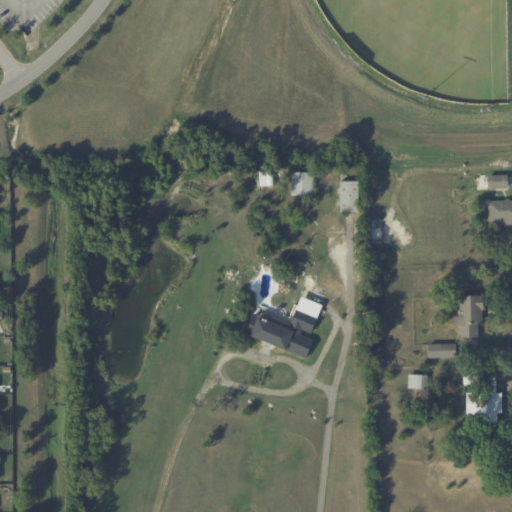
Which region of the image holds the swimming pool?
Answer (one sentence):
The swimming pool is in the center part of the image.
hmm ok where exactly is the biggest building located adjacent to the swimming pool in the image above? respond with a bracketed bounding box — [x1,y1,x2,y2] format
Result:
[250,310,318,358]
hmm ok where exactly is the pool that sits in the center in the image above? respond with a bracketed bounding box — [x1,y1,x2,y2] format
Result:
[250,264,294,330]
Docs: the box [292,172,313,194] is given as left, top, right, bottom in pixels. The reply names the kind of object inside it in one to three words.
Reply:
barn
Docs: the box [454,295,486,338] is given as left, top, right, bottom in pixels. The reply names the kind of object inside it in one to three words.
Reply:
house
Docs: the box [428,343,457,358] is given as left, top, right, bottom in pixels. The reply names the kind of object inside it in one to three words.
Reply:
shed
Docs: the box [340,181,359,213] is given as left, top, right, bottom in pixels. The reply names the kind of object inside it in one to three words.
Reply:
building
